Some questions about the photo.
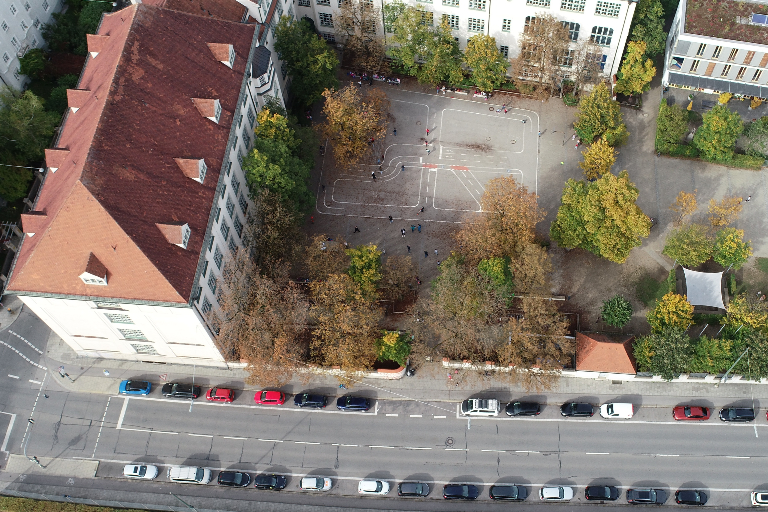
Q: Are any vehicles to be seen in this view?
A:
Yes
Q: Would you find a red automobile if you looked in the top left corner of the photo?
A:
No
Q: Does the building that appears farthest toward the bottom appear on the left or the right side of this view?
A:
right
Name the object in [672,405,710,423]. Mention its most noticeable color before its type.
red car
